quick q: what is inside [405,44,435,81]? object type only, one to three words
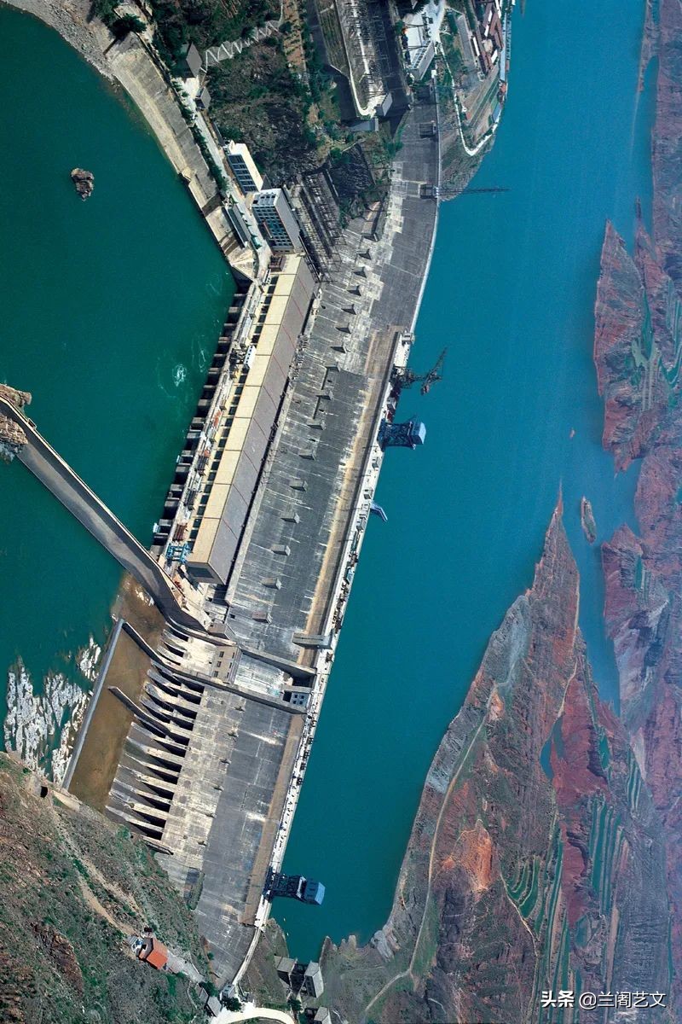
building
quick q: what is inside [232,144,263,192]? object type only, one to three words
building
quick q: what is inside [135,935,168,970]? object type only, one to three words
house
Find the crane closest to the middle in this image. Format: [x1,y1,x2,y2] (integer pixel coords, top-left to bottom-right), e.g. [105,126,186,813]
[370,413,417,448]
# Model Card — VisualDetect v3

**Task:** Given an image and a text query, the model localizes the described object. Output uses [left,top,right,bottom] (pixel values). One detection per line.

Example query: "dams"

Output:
[101,72,441,984]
